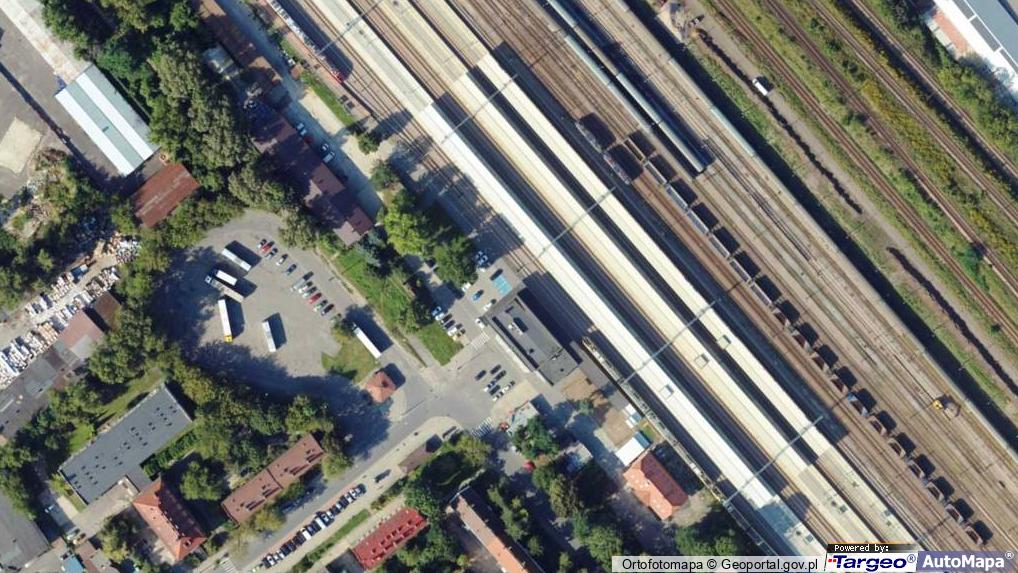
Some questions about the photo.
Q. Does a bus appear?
Yes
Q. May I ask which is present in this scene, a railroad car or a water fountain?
railroad car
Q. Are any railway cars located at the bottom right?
Yes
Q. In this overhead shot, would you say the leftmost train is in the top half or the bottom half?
top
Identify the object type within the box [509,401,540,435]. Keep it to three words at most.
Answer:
building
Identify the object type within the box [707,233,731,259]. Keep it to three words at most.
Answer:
rail car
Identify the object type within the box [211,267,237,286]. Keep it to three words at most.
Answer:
vehicle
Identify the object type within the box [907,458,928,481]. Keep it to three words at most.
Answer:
rail car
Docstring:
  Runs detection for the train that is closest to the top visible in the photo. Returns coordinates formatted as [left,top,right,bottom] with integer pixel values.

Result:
[267,0,348,85]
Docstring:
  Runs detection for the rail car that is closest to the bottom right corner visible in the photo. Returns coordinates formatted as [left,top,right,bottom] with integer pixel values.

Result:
[964,522,985,546]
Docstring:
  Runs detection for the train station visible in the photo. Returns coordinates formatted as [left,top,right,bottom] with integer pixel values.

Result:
[486,293,579,389]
